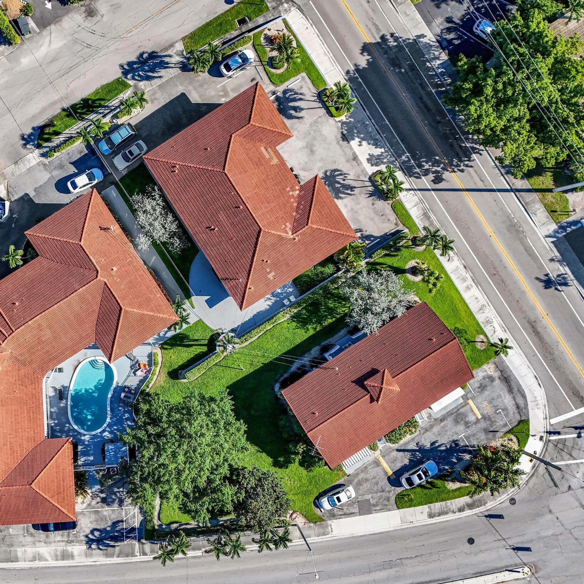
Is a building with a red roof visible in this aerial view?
Yes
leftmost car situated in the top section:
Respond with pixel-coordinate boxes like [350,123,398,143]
[65,166,105,192]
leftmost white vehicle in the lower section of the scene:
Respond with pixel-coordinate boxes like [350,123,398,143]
[318,481,357,510]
